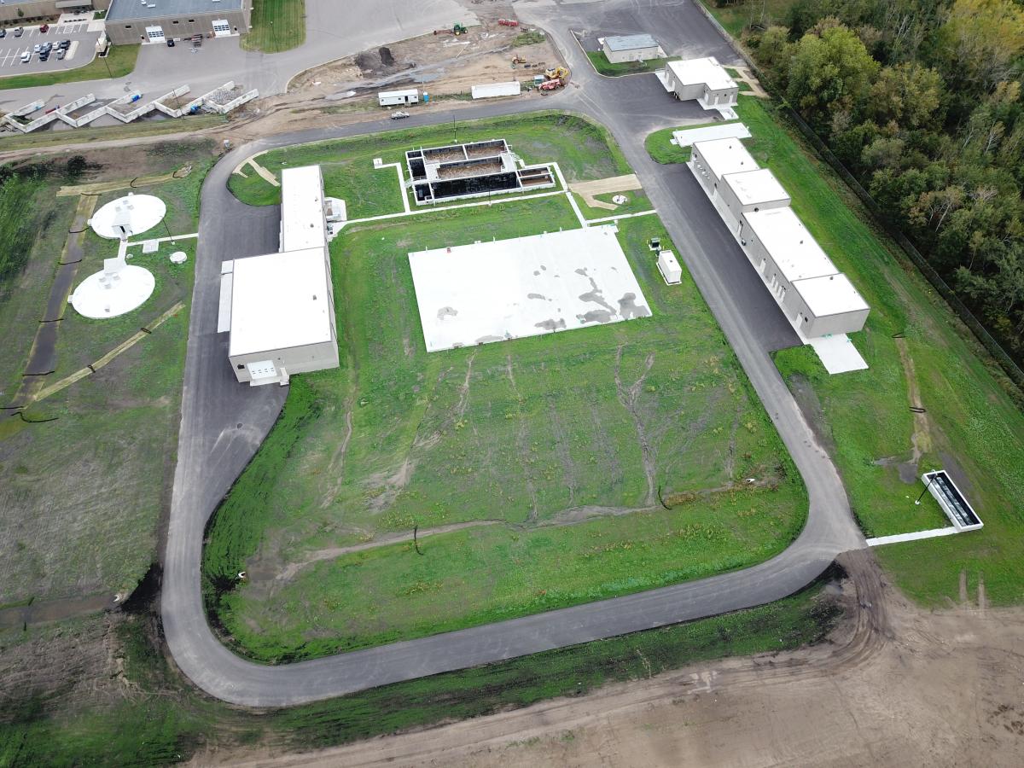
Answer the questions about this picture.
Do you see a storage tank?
Yes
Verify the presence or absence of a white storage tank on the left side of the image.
Yes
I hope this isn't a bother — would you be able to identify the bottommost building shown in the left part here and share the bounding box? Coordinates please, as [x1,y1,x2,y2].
[217,165,339,387]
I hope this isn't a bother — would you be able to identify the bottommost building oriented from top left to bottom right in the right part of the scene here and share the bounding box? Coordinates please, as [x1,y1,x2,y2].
[690,137,870,337]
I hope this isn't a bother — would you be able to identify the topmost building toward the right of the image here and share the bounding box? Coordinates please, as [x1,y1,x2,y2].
[603,32,660,63]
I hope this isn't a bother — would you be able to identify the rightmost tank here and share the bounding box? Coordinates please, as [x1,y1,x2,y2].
[921,469,982,534]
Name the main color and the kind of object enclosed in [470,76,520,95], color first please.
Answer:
white trailer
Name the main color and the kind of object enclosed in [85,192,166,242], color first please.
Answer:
white storage tank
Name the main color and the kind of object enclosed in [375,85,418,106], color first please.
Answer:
white trailer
